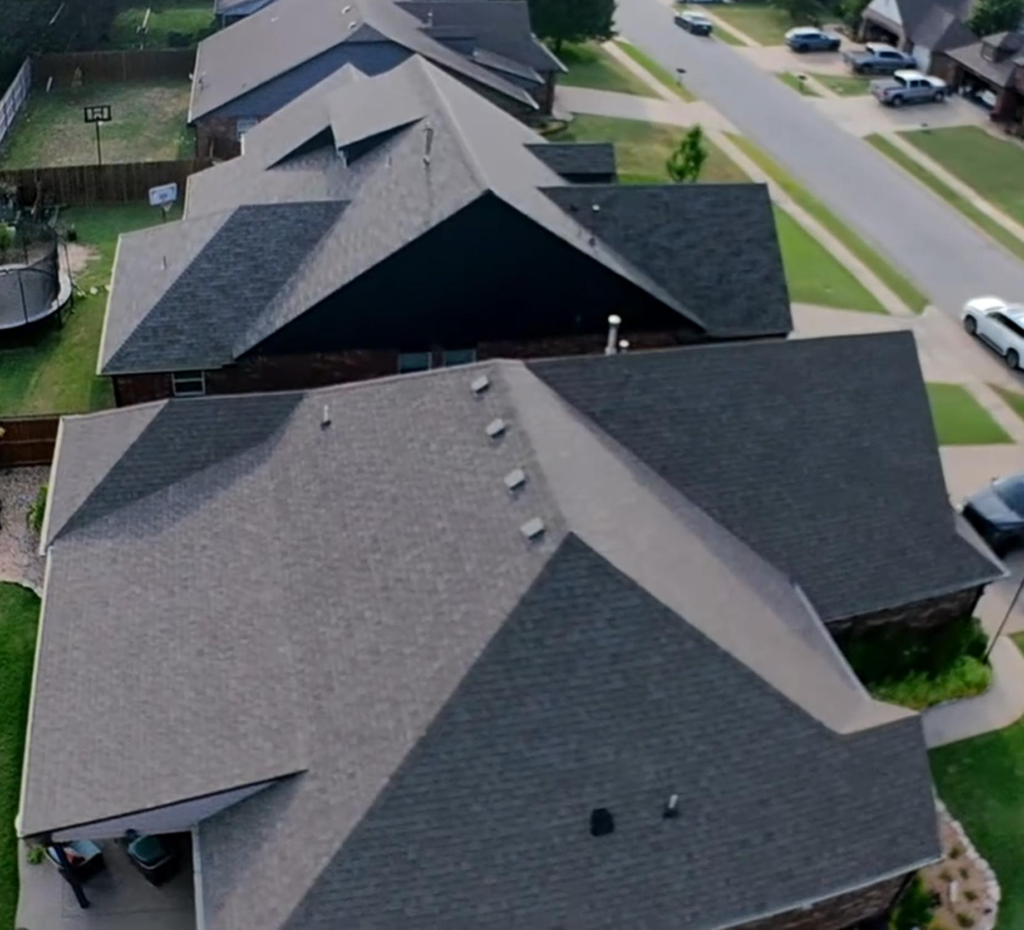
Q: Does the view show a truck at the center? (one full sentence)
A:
No, I can find no truck at the center.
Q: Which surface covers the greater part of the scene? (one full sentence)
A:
The bulk of the photo consists of buildings.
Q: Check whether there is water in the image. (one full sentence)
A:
No, no water is visible.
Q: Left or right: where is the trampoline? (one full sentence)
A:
You can find the trampoline on the left side of the picture.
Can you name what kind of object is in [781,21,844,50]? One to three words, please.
car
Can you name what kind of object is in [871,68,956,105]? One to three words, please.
truck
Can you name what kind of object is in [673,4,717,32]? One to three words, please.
car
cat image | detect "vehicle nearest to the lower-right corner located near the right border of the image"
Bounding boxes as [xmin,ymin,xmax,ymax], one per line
[967,477,1024,544]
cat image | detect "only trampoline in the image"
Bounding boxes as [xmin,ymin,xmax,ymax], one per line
[0,225,95,346]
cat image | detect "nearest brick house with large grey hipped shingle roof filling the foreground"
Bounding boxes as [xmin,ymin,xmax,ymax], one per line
[14,315,1009,930]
